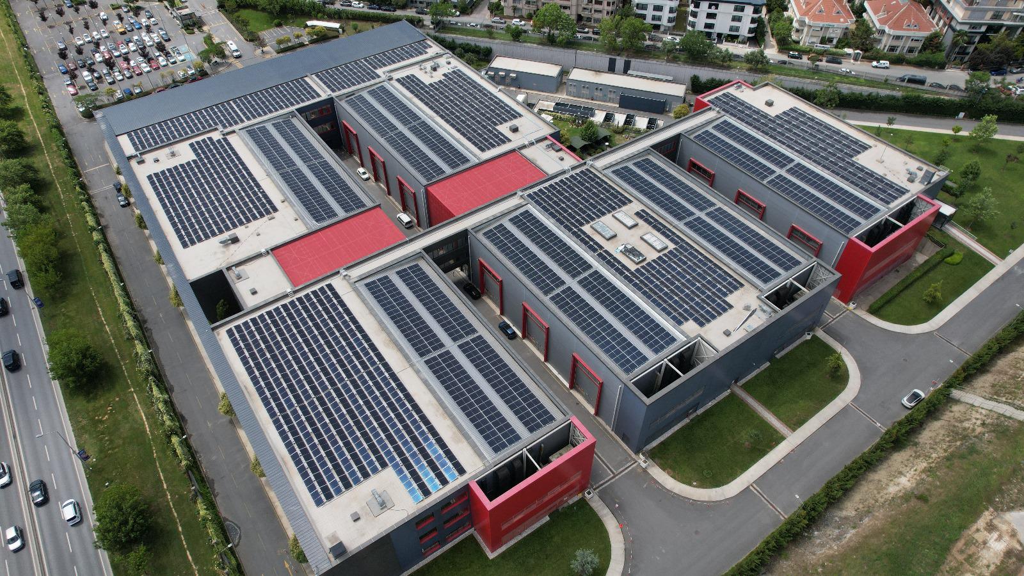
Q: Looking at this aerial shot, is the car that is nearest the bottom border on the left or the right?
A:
left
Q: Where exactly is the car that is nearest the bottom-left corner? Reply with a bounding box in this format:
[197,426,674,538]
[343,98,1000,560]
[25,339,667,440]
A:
[5,523,26,555]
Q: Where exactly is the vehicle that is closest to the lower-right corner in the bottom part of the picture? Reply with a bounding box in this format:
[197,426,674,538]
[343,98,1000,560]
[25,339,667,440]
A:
[899,388,926,410]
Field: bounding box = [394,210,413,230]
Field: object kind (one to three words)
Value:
vehicle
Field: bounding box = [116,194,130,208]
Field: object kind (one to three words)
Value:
car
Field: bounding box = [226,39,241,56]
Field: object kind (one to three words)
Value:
vehicle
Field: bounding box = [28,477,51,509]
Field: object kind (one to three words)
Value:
car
